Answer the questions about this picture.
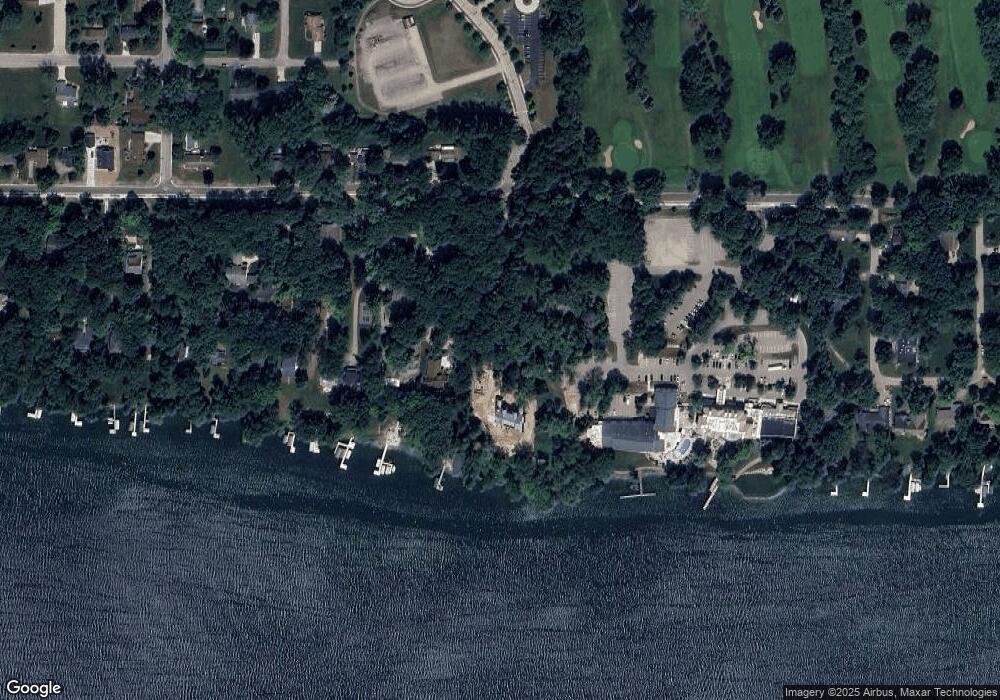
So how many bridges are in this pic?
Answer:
none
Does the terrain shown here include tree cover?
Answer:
Yes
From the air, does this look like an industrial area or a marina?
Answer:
marina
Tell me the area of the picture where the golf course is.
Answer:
top right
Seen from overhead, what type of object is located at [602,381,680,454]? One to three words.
building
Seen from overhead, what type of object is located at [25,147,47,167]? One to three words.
house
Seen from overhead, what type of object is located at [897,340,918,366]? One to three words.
house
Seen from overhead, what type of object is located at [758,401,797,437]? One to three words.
building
